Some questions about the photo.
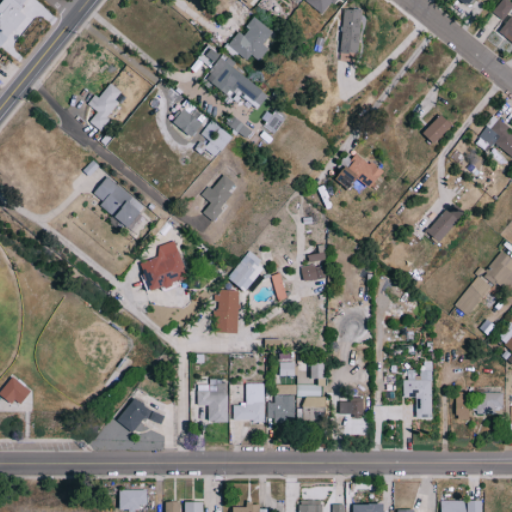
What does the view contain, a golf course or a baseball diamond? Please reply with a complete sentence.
Of the two, only a baseball diamond appears.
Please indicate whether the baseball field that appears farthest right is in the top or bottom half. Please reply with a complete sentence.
Seen from above, the baseball field that appears farthest right lies in the bottom half of the view.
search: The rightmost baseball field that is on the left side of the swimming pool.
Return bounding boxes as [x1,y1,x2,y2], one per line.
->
[34,297,131,406]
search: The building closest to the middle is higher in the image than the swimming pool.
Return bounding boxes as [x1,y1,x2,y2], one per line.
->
[228,250,265,290]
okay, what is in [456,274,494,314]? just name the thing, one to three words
barn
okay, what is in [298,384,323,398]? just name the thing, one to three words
building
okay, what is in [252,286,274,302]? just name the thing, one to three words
swimming pool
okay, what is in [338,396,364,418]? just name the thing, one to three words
house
